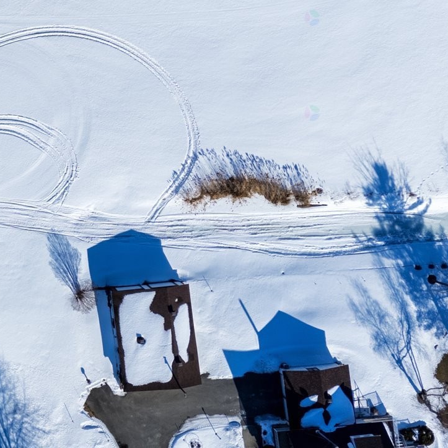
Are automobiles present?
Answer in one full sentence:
No, I can't see a single automobile in this photo.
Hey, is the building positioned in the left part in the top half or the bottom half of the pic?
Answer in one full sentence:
The building positioned in the left part sits in the bottom half of the picture.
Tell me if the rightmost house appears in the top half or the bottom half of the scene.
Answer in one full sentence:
The rightmost house sits in the bottom half of the picture.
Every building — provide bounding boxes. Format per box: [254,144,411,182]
[108,280,202,392]
[266,360,397,448]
